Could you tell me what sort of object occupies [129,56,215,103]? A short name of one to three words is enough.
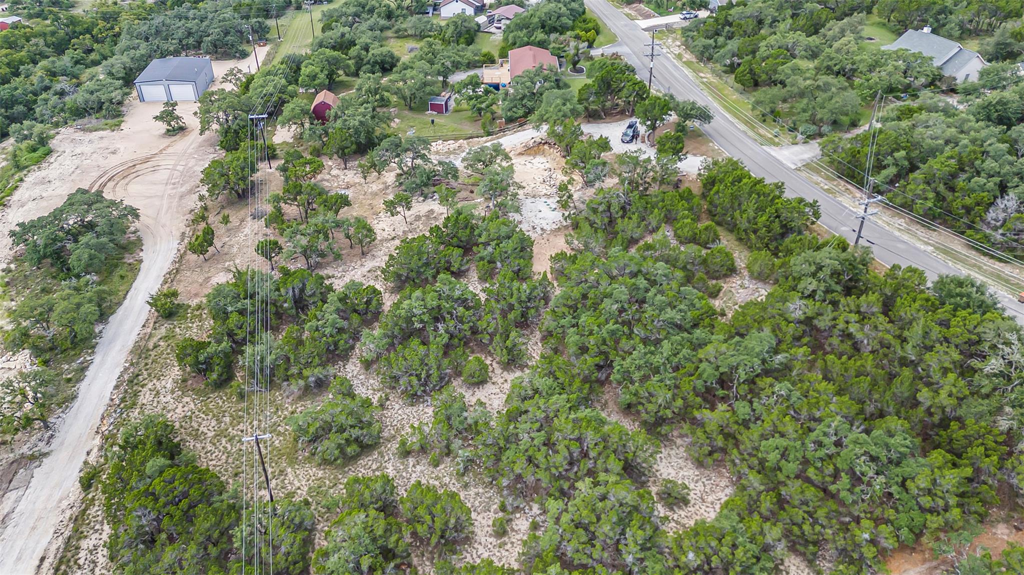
building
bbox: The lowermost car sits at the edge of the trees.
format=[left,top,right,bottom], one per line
[622,120,641,141]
